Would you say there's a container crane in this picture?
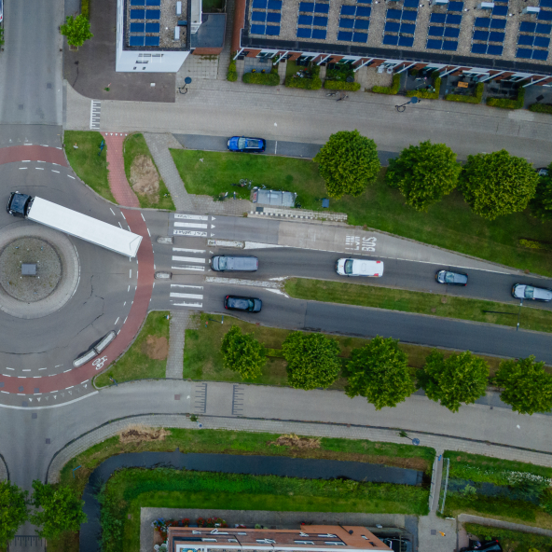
No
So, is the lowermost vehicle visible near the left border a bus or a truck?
truck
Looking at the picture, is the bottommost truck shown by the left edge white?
Yes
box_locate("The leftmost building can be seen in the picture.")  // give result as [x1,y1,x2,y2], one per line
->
[117,0,203,72]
